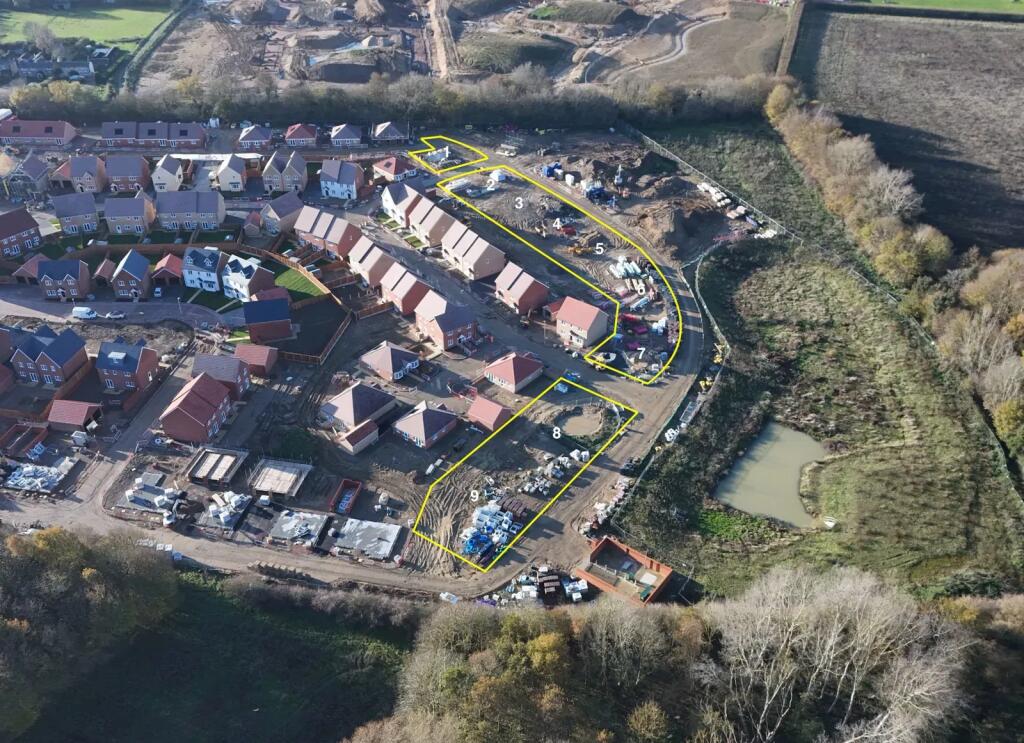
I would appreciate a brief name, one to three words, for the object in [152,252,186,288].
building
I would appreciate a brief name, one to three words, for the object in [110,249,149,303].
house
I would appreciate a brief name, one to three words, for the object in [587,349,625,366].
work vehicle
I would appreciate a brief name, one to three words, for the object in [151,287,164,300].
vehicle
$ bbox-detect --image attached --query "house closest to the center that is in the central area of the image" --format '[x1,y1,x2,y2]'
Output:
[484,353,540,395]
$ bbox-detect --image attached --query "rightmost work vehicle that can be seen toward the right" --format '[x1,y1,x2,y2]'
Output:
[705,337,726,356]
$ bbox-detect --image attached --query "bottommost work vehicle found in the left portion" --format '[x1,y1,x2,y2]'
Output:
[154,494,201,527]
